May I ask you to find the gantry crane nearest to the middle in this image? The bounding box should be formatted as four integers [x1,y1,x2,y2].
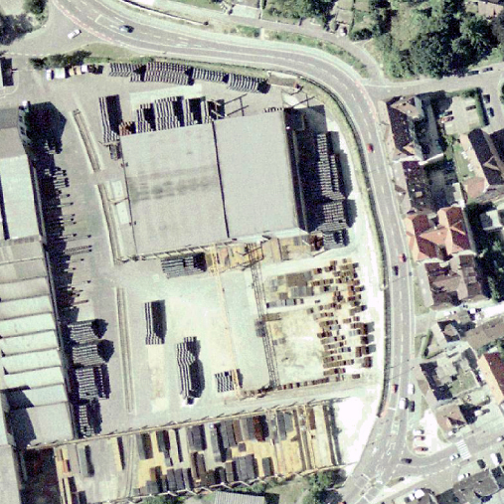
[212,251,256,398]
